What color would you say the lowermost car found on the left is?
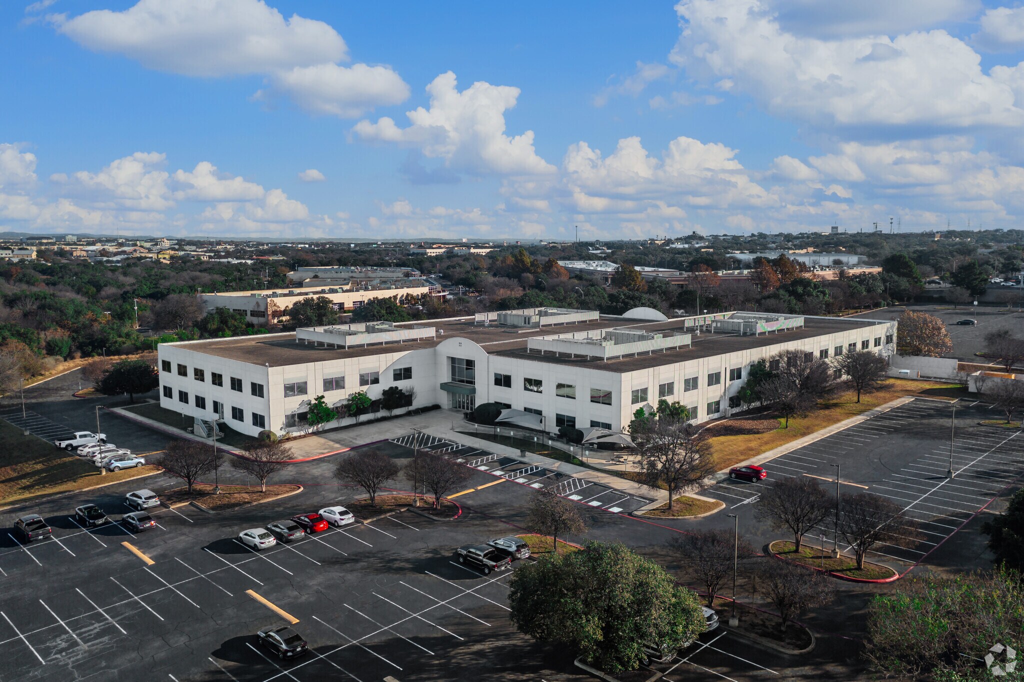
black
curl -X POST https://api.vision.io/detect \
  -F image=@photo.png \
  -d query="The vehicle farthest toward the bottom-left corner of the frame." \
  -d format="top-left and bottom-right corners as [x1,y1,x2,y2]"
[16,513,53,542]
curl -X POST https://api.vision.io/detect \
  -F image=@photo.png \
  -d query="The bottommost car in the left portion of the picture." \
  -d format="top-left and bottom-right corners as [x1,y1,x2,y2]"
[258,622,312,659]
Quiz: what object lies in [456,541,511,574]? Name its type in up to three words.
truck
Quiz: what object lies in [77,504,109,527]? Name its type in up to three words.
car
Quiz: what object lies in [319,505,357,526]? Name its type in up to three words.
car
